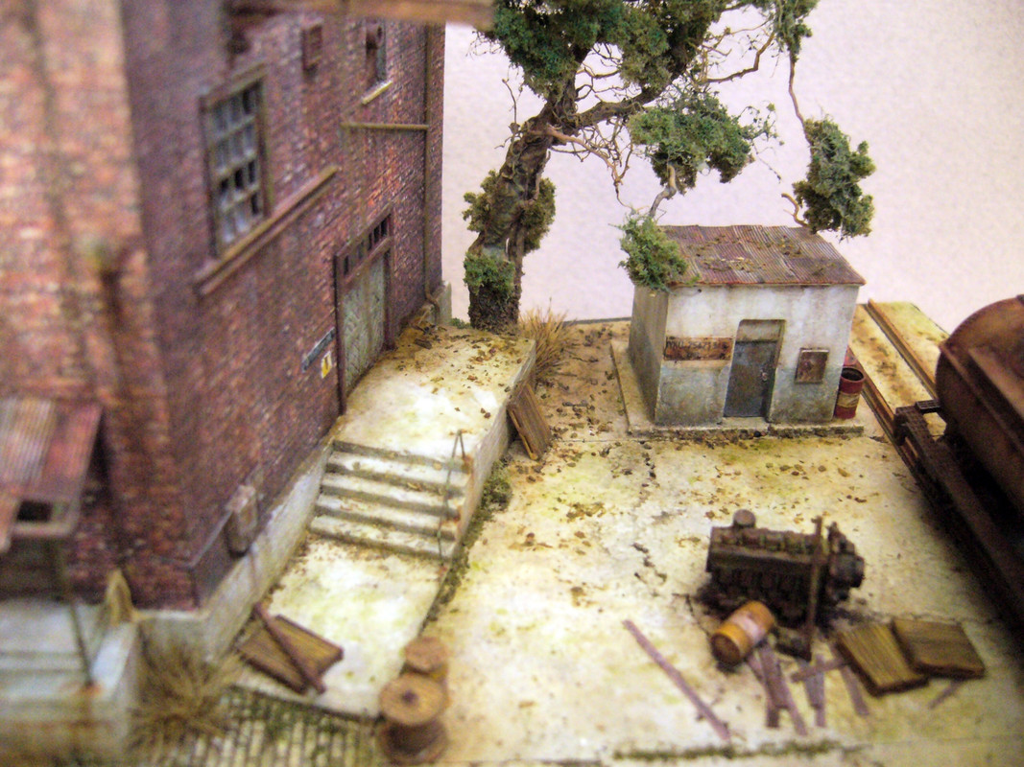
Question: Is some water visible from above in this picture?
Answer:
No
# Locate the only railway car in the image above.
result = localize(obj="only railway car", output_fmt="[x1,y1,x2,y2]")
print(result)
[879,293,1024,654]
